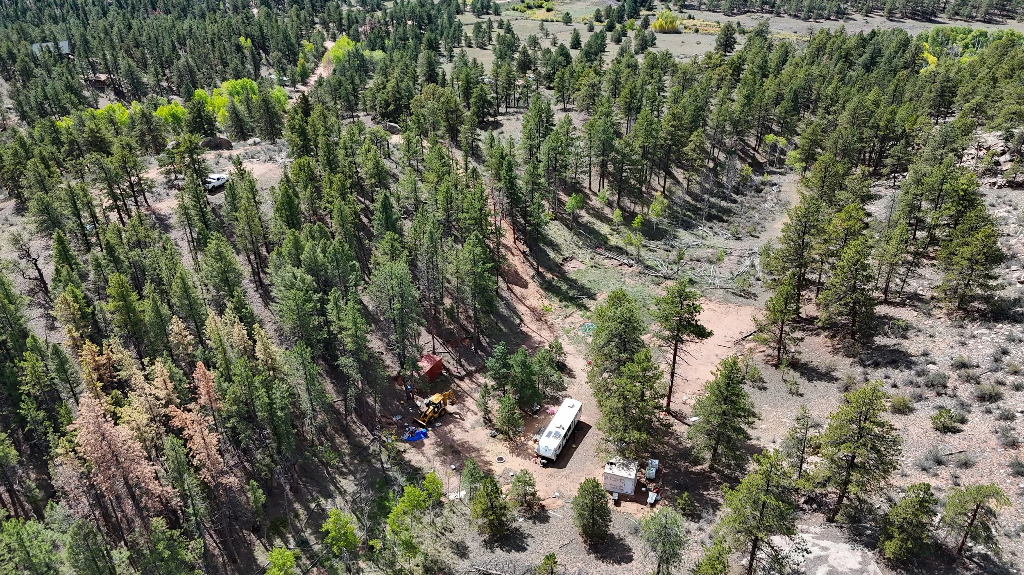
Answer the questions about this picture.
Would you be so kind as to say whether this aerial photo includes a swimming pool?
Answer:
No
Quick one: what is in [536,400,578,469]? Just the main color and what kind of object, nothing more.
white trailer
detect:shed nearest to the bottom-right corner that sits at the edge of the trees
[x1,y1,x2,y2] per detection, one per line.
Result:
[603,456,638,493]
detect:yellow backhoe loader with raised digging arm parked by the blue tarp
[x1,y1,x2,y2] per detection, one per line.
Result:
[412,386,456,427]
